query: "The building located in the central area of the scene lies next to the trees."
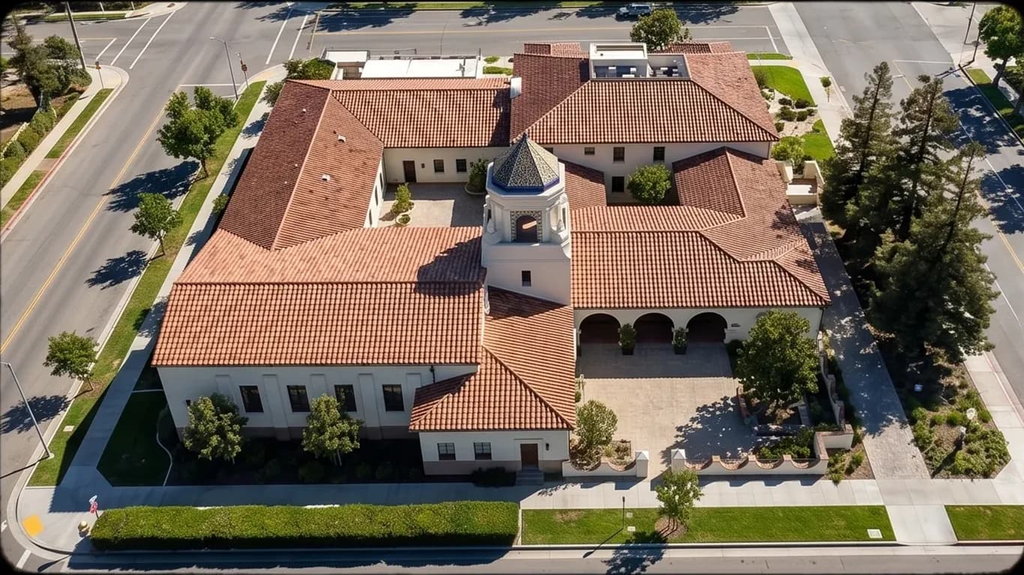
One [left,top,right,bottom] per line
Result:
[144,38,833,483]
